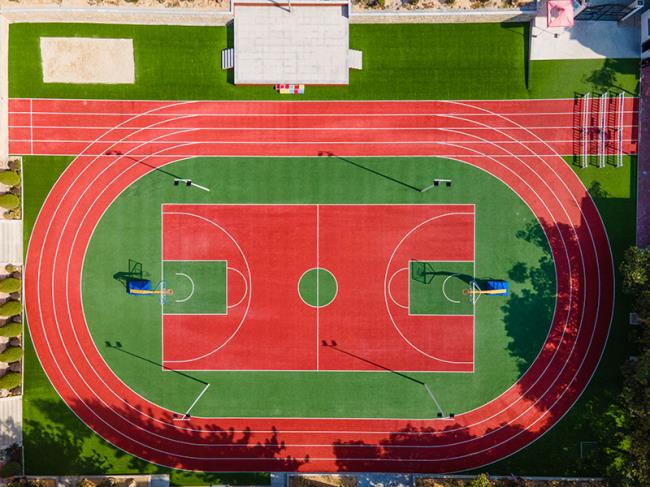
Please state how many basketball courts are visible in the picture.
one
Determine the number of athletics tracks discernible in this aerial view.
one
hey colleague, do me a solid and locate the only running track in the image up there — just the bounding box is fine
[8,98,635,473]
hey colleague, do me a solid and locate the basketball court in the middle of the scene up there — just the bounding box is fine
[162,204,475,373]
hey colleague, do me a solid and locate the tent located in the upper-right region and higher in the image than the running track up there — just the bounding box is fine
[535,0,574,38]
